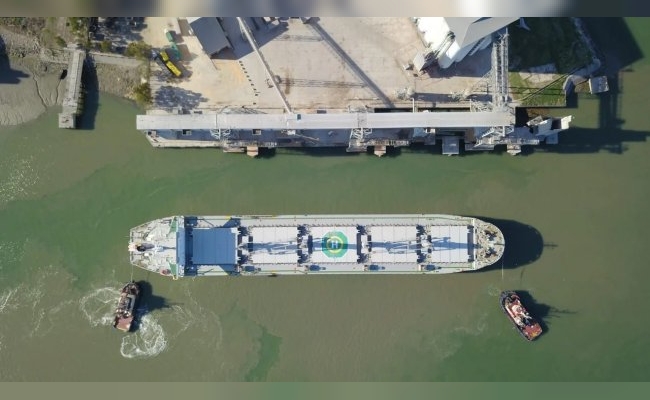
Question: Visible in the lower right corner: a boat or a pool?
boat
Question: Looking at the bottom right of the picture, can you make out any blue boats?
No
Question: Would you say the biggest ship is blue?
No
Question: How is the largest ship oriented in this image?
from side to side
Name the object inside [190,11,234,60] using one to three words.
shed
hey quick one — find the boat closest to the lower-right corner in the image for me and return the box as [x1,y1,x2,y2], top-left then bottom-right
[500,290,541,342]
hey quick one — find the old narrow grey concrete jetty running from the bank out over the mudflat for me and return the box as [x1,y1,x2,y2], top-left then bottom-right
[58,44,89,130]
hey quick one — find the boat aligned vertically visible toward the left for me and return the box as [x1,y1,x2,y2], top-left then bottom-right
[112,283,142,333]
